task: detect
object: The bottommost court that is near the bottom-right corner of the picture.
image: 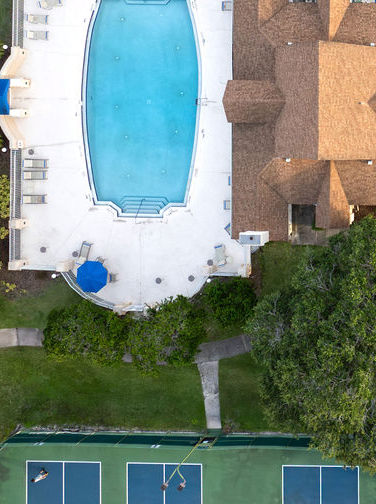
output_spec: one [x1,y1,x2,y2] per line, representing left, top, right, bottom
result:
[282,465,359,504]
